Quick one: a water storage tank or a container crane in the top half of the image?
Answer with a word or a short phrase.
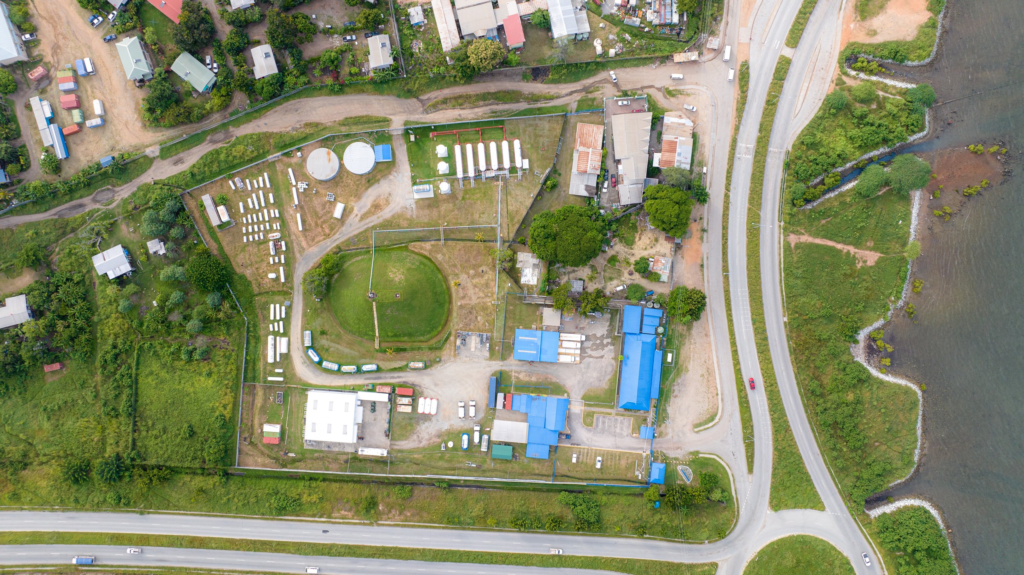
water storage tank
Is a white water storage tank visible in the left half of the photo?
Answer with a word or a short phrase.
Yes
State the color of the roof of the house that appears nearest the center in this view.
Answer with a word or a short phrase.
white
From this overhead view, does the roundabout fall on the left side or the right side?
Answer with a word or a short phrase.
right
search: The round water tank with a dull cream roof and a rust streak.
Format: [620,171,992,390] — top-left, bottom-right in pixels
[306,147,341,181]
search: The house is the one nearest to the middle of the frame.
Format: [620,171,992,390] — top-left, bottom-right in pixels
[517,252,539,285]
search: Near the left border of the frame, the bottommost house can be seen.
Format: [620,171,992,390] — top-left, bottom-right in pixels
[0,295,35,326]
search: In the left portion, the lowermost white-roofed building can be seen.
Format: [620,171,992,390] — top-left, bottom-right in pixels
[304,388,389,443]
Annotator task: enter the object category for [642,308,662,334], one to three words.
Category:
building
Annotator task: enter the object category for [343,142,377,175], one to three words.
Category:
water tank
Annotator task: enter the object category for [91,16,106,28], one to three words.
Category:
vehicle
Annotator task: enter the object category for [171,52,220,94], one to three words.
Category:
house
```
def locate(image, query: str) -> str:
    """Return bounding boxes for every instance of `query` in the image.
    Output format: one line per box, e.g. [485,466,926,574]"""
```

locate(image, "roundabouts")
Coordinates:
[715,508,881,575]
